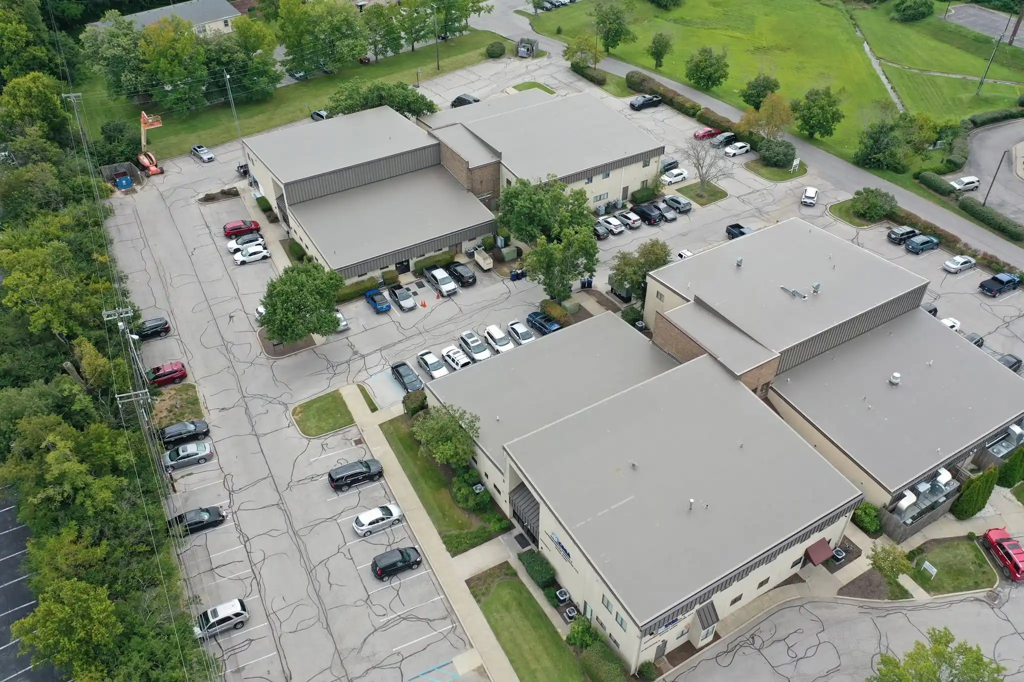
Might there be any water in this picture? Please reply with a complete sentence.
No, water can't be seen anywhere here.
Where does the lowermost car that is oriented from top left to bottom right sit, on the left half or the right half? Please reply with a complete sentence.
The lowermost car that is oriented from top left to bottom right is on the right side of the image.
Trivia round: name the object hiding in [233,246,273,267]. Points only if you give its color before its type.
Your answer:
white car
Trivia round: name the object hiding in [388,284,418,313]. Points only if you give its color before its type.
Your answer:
gray car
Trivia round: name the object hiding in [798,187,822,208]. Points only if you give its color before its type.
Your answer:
white car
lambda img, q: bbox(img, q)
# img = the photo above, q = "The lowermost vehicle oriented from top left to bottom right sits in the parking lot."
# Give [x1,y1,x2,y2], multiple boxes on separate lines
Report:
[985,530,1024,586]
